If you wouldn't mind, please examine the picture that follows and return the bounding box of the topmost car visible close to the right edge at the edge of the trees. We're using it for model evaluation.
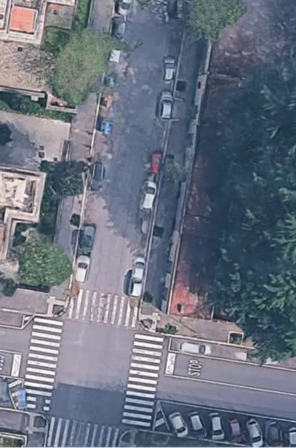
[261,357,282,370]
